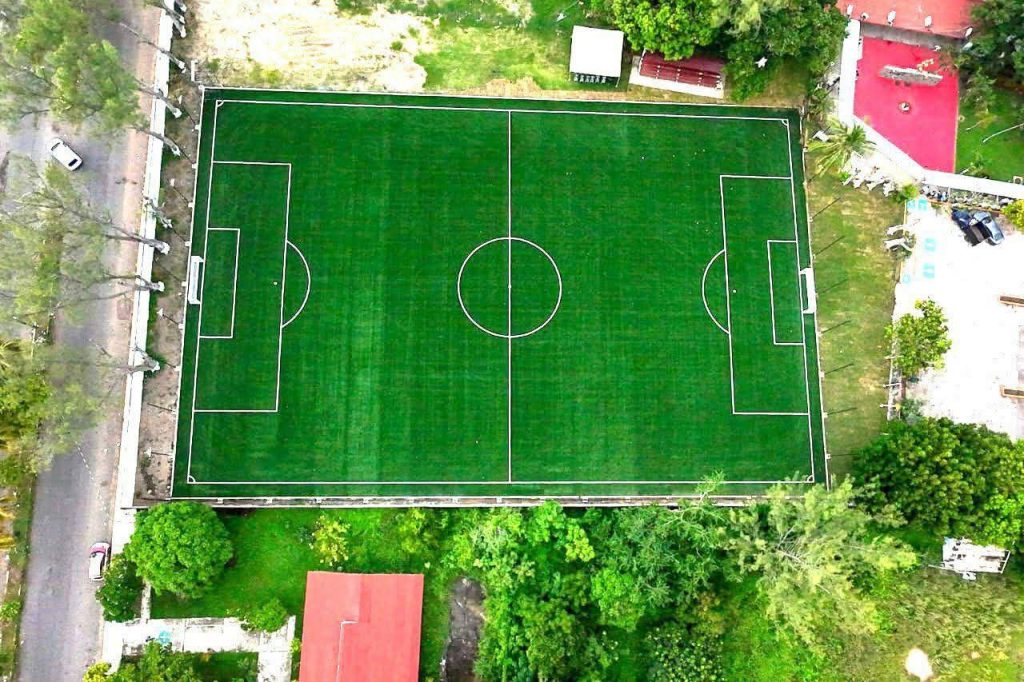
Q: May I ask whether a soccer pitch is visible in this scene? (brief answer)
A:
Yes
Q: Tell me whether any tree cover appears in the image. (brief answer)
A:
Yes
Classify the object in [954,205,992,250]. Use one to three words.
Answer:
truck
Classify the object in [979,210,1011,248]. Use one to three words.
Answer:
car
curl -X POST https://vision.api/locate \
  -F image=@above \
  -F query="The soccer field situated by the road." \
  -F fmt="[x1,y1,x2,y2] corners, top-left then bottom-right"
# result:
[169,86,830,498]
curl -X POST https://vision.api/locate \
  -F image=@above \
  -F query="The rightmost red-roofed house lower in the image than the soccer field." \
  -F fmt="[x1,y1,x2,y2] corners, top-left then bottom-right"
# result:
[299,572,424,682]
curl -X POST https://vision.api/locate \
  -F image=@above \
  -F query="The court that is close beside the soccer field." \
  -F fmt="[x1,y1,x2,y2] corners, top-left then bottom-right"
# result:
[855,35,968,174]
